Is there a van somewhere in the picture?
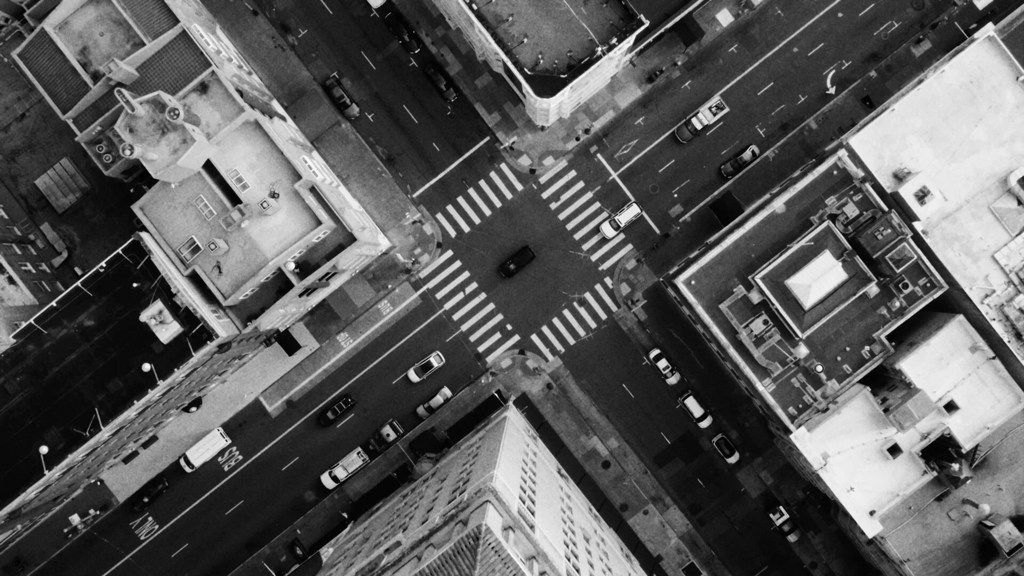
Yes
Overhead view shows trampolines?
No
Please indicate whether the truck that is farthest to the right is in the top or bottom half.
bottom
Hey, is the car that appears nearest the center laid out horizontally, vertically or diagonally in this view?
diagonally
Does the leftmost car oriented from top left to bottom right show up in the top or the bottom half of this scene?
top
